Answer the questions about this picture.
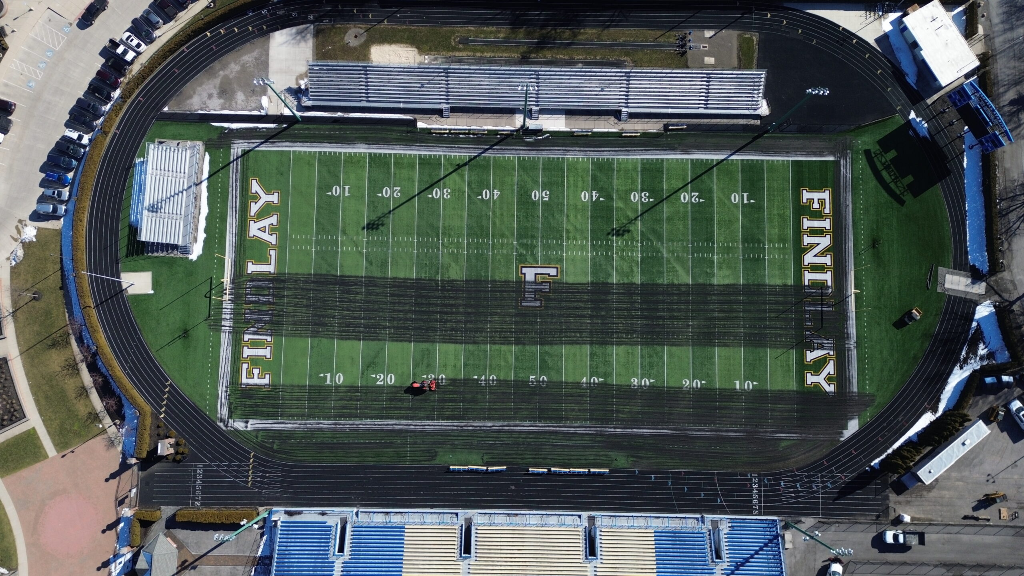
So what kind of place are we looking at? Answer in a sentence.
The picture captures a sports ground.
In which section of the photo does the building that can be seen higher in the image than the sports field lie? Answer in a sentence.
The building that can be seen higher in the image than the sports field appears toward the top right of the photo.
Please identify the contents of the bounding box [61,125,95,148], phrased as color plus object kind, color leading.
white car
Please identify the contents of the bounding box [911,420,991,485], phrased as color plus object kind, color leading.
white trailer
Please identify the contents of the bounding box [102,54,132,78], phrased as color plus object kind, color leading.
black car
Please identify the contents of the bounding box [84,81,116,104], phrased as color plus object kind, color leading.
black car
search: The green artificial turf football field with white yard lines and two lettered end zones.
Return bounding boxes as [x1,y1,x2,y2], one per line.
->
[119,115,953,472]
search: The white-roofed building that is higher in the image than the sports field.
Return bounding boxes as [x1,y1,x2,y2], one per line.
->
[896,0,981,91]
